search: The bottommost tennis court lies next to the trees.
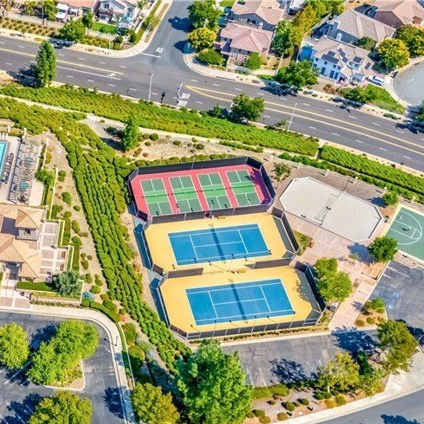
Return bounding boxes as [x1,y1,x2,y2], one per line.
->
[163,265,323,332]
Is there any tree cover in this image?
Yes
